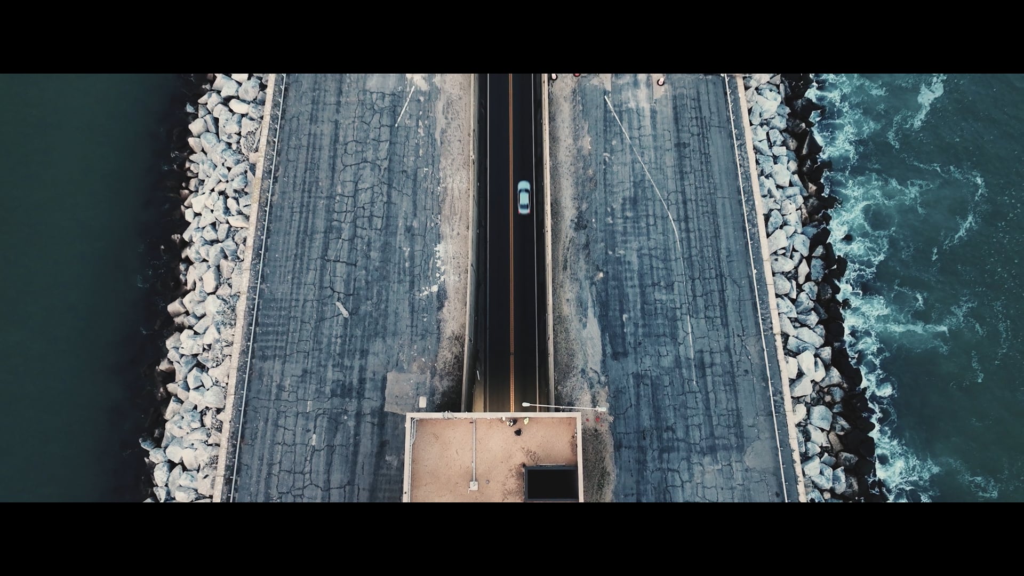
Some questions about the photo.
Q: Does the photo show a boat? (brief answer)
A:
No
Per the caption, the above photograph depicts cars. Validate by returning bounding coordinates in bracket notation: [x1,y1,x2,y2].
[517,180,531,213]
